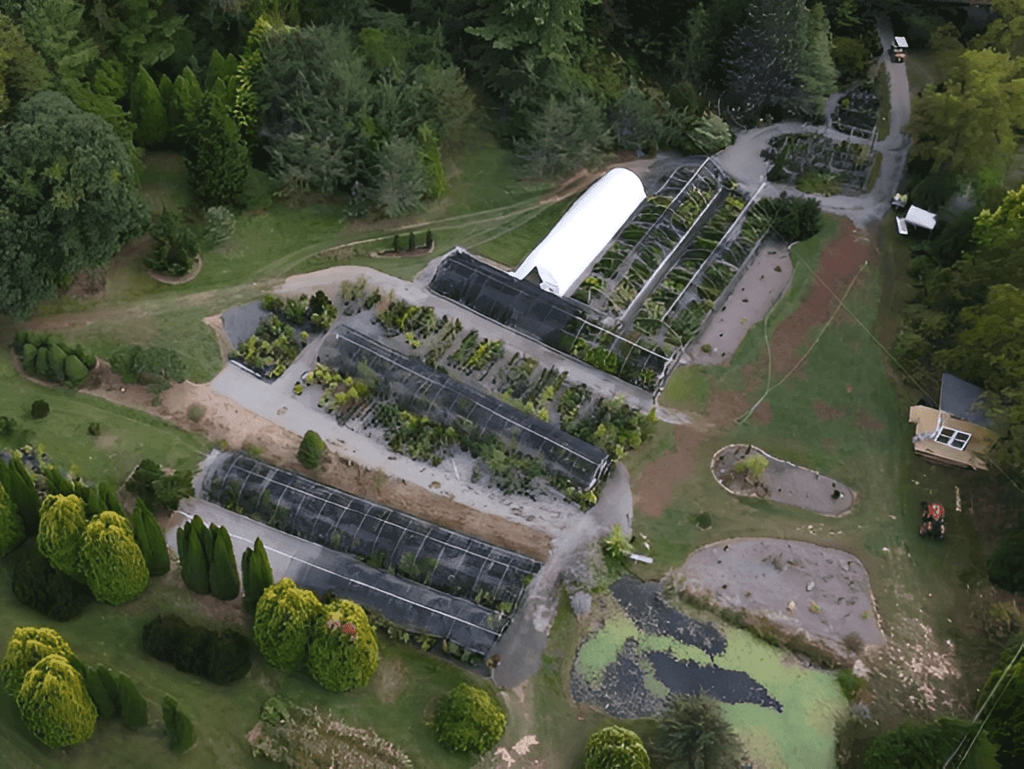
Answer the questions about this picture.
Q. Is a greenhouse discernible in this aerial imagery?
Yes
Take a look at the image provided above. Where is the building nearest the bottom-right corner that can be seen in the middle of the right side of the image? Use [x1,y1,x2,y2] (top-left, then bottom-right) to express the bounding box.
[907,365,1002,475]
